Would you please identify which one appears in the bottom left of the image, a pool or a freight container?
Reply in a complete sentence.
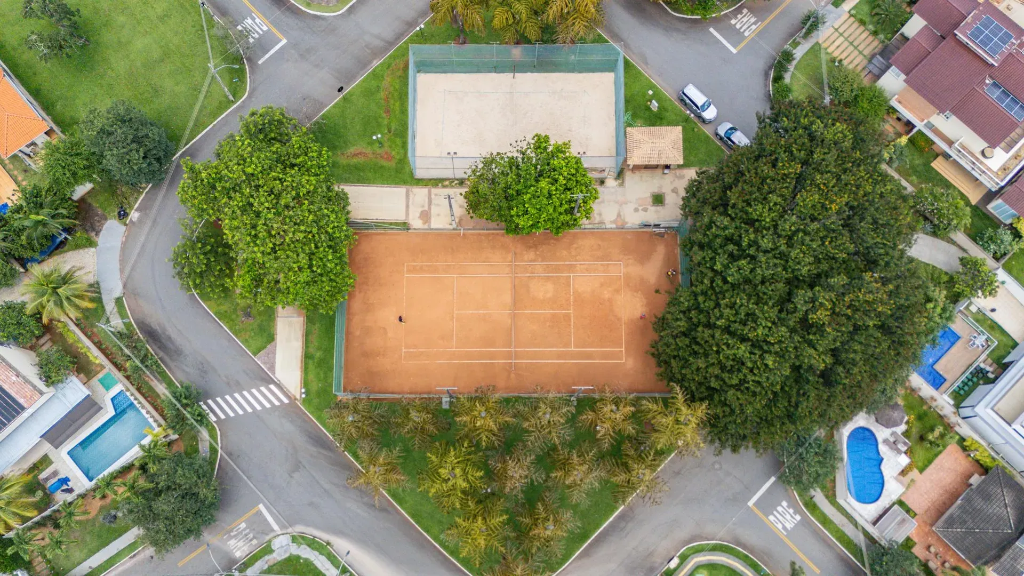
The one visible in the bottom left of the image is a pool.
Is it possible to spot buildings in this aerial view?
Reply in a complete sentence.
Yes, I can see a building in this picture.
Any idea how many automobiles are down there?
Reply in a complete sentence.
Looking from above, you can make out 2 automobiles.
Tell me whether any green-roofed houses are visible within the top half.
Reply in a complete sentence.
No, no green-roofed house can be made out within the top half.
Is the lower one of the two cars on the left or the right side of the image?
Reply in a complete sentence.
The lower one of the two cars is on the right side of the image.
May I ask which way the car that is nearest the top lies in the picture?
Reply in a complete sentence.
I'd say the car that is nearest the top is aligned diagonally in the picture.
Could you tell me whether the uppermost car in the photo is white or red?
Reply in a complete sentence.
In this view, the uppermost car is white.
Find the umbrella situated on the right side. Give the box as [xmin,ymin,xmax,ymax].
[873,400,906,433]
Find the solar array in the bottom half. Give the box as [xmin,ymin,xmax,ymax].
[0,386,27,432]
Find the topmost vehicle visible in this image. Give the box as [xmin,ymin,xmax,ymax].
[678,85,718,124]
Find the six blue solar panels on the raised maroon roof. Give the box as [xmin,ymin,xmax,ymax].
[968,14,1015,57]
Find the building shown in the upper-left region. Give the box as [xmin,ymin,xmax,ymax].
[0,71,53,161]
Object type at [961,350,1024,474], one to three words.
house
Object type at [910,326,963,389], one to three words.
swimming pool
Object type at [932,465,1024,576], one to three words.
house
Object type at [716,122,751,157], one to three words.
car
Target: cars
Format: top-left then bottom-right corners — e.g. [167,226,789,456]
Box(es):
[716,122,751,157]
[678,85,718,124]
